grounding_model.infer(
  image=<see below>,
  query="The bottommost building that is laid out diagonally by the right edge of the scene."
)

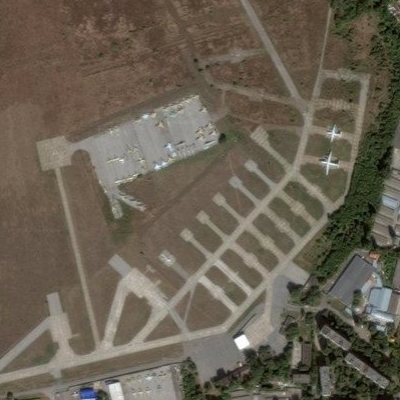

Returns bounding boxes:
[345,354,389,388]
